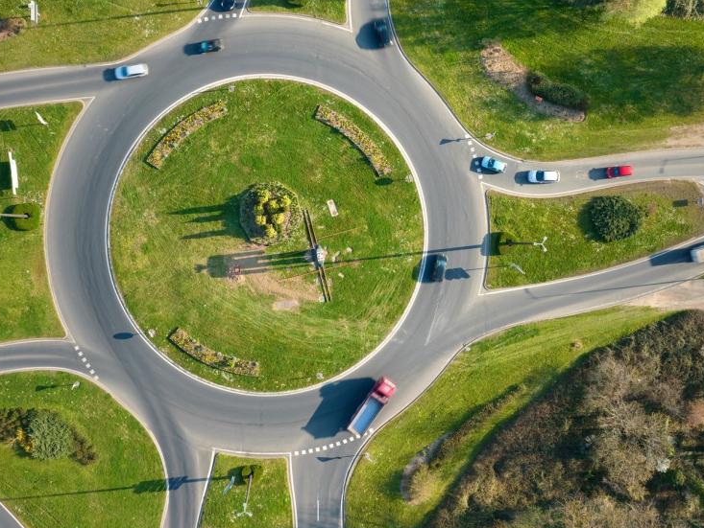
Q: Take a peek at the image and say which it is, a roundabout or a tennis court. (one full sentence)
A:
It is a roundabout that can be seen here.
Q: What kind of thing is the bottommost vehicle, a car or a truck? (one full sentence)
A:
From above, the bottommost vehicle can be identified as a truck.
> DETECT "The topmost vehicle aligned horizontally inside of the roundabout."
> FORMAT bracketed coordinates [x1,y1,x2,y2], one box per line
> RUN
[191,39,224,55]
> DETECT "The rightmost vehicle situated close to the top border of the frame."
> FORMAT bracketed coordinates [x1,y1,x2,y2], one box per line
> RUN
[374,15,391,50]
